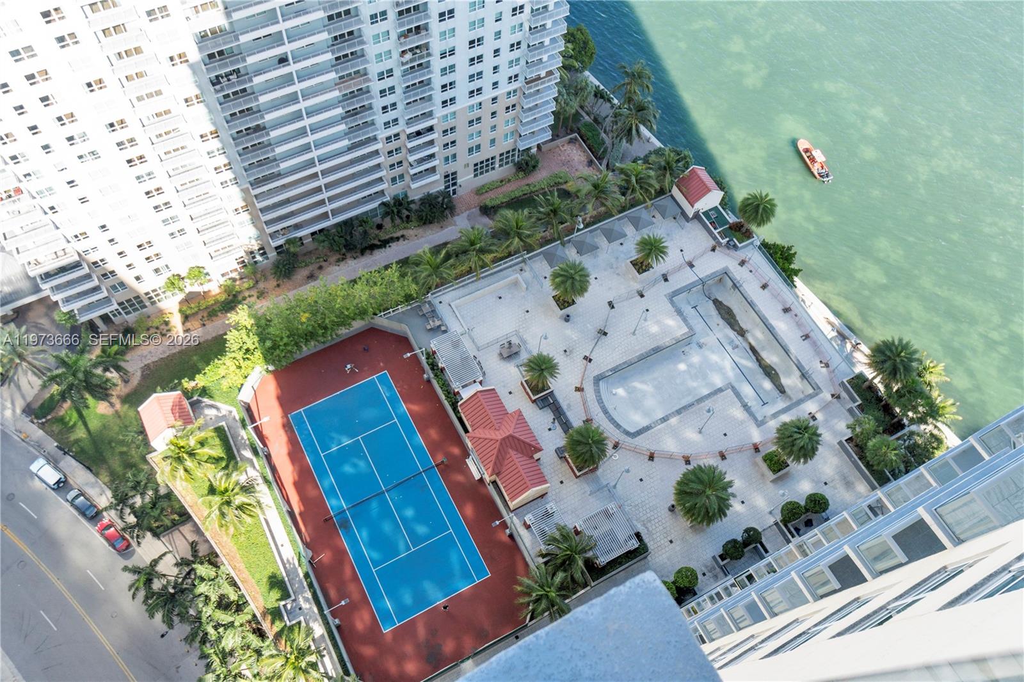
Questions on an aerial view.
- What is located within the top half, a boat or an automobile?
boat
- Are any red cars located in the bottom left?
Yes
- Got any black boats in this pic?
No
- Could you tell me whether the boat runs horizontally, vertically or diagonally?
diagonally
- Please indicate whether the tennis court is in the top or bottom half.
bottom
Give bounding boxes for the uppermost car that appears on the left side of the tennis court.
[29,456,67,492]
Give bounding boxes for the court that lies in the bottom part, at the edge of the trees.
[251,327,548,682]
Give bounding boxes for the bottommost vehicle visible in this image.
[95,516,133,554]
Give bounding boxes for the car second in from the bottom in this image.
[63,488,101,522]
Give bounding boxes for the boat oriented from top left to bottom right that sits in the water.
[799,138,835,184]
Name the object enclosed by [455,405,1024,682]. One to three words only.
building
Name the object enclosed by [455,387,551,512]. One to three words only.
building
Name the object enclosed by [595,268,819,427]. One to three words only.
swimming pool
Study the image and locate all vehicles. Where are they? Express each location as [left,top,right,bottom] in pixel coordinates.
[95,516,133,554]
[29,456,67,492]
[63,488,101,522]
